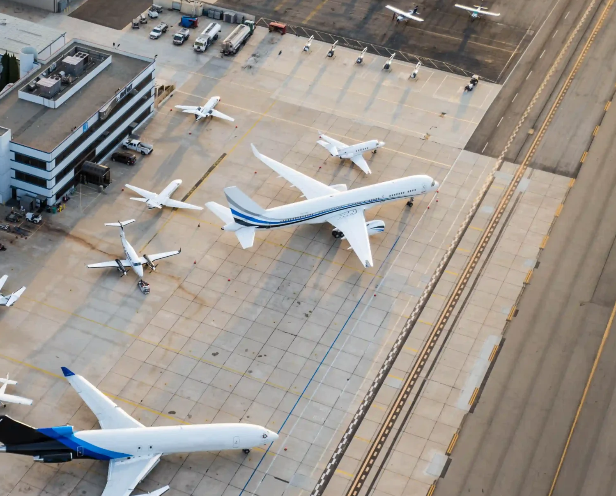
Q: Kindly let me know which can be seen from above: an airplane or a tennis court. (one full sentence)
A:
There is an airplane in the scene.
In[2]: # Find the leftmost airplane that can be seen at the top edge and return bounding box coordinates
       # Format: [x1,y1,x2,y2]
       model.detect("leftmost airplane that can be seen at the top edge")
[384,6,424,26]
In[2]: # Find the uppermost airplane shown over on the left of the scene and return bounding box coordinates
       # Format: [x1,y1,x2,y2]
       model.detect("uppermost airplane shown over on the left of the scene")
[177,101,234,124]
